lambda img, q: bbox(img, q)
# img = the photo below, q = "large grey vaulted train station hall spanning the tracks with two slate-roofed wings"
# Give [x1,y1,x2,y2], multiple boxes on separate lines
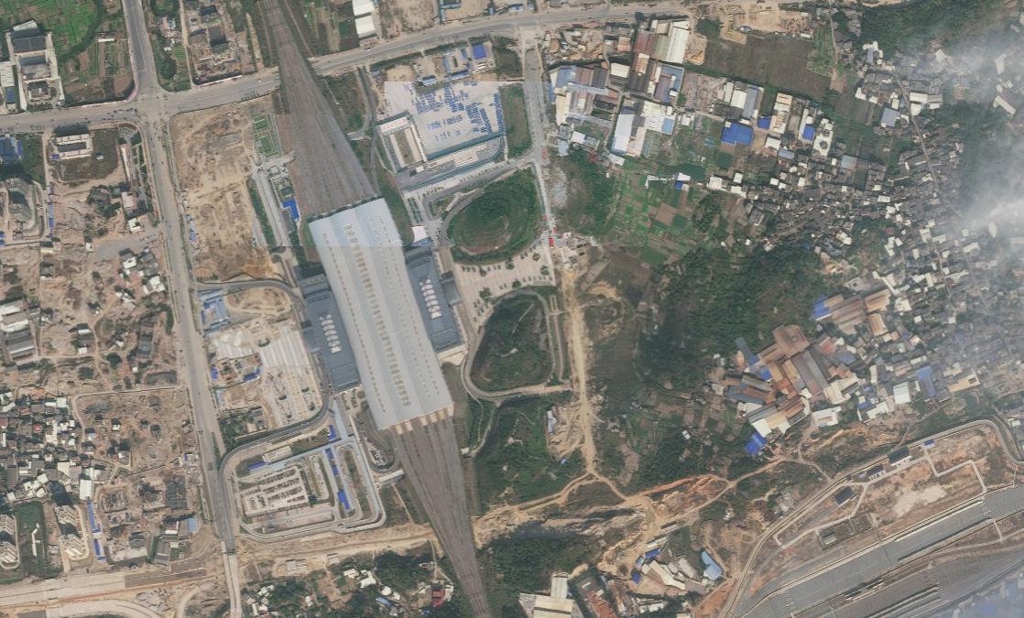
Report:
[299,199,467,444]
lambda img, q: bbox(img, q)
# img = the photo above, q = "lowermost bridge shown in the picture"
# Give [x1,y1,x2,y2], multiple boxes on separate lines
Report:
[222,545,243,618]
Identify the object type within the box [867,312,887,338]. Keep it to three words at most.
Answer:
building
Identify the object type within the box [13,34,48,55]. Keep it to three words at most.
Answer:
building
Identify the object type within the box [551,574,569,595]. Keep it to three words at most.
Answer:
house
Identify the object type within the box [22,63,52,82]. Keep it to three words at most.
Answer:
house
